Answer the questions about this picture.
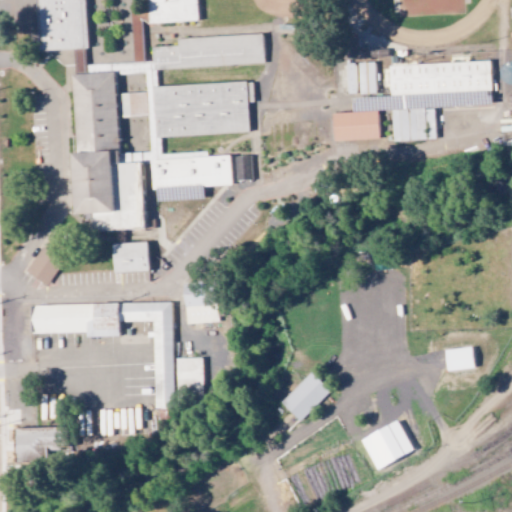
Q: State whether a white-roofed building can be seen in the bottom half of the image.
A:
Yes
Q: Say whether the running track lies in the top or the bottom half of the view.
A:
top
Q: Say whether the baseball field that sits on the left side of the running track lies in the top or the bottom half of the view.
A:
top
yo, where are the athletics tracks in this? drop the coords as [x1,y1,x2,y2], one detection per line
[360,0,501,46]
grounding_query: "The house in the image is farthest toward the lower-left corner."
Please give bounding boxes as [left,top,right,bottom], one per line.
[16,428,60,464]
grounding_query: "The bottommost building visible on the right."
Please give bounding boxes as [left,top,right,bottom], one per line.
[362,422,414,472]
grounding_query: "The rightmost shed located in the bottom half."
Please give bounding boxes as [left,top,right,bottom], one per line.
[446,346,476,372]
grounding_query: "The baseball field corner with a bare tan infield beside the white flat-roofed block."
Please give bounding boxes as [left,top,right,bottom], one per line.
[206,0,294,26]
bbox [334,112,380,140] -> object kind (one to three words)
barn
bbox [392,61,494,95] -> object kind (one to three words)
greenhouse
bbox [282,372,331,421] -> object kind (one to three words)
house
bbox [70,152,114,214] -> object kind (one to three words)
building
